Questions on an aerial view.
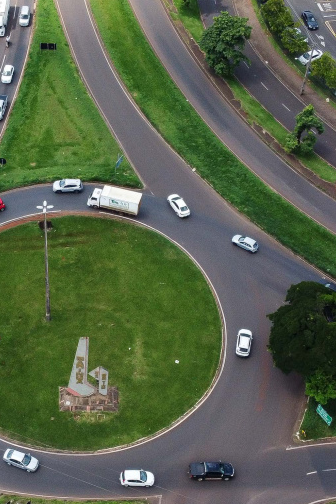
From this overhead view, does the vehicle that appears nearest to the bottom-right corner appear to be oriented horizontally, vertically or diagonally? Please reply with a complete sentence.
From this overhead view, the vehicle that appears nearest to the bottom-right corner appears to run horizontally.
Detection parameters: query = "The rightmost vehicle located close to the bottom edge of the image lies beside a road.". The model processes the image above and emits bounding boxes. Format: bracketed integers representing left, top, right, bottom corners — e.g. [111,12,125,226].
[190,461,235,482]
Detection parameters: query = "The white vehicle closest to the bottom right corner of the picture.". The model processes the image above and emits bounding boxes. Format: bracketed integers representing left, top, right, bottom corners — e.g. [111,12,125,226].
[237,329,253,358]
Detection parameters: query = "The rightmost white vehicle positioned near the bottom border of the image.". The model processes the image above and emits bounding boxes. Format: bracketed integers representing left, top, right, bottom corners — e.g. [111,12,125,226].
[120,468,155,488]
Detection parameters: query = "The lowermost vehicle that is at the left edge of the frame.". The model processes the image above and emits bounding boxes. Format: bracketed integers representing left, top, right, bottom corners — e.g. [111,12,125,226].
[2,449,40,472]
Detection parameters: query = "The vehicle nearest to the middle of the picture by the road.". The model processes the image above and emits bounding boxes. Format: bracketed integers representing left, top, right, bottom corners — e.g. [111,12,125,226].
[166,197,191,218]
